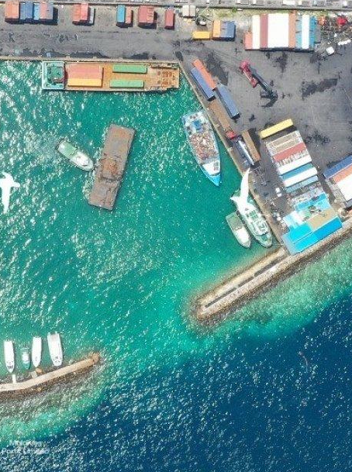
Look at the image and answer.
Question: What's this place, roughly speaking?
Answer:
port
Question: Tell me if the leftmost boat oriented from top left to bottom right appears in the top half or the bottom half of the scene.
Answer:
top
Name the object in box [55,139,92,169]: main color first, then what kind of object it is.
white boat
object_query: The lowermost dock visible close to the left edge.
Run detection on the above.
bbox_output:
[0,355,94,389]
